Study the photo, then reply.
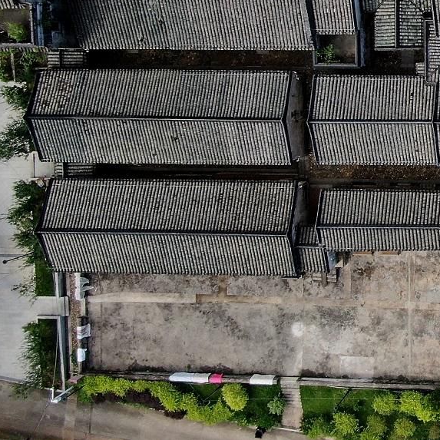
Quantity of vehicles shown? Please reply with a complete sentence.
There are no vehicles in the image.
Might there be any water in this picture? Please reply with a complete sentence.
No, there is no water in the image.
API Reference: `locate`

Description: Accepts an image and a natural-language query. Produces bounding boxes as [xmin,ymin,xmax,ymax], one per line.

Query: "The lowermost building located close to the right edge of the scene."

[315,188,440,252]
